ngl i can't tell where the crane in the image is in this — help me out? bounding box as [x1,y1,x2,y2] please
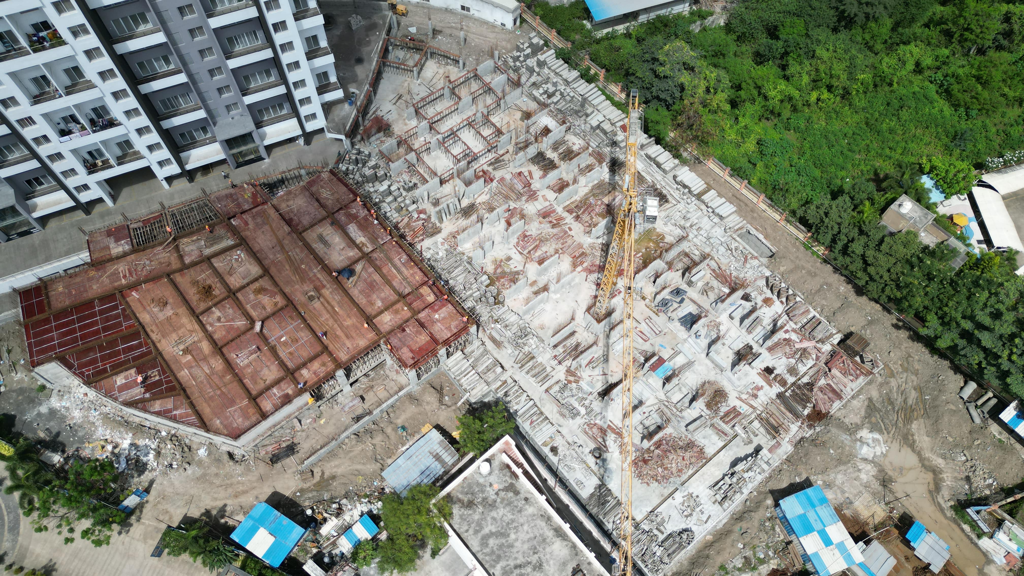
[595,86,658,576]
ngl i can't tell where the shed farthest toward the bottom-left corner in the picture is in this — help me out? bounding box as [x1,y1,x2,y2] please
[123,489,158,520]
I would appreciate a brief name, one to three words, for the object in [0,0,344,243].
building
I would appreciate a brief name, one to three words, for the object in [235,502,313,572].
shed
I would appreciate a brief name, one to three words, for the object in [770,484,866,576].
shed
